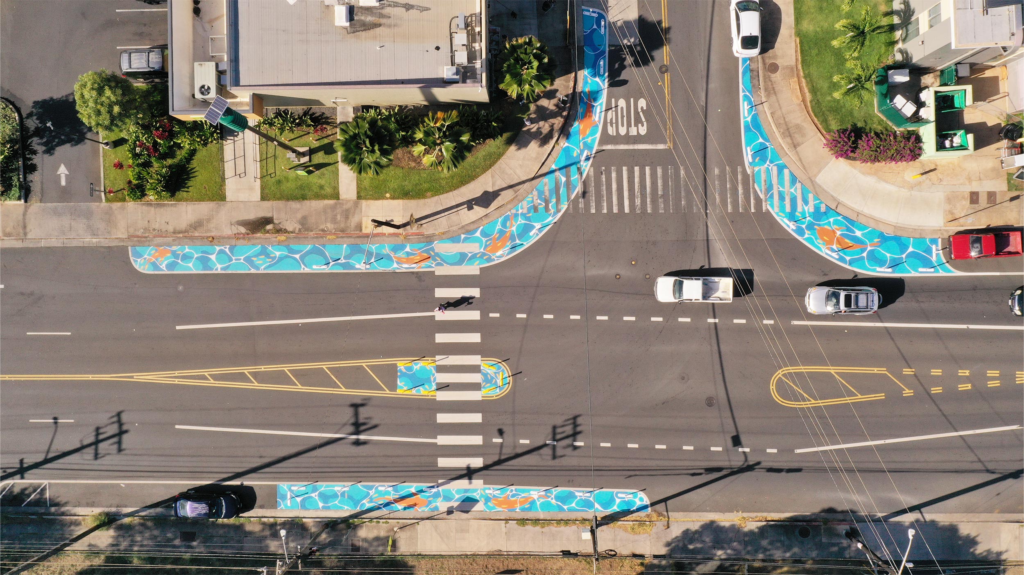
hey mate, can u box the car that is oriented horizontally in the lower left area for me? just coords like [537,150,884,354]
[174,491,244,524]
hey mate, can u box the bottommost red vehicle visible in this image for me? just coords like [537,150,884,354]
[949,231,1024,261]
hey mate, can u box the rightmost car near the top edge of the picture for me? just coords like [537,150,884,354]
[729,0,763,57]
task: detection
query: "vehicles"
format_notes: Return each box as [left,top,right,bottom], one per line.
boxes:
[804,284,884,317]
[122,48,167,81]
[729,0,763,57]
[949,231,1024,261]
[1008,287,1024,315]
[651,273,733,306]
[174,491,244,524]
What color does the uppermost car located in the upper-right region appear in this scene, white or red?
white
